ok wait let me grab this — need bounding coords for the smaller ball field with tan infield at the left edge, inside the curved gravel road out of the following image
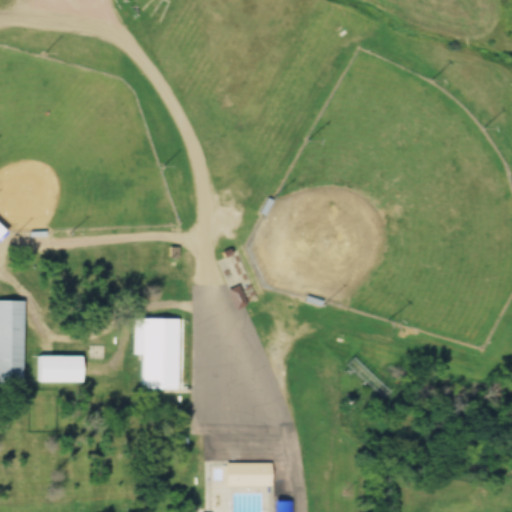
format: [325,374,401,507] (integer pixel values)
[0,44,181,231]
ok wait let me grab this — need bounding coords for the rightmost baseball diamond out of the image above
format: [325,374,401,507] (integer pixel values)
[246,48,512,349]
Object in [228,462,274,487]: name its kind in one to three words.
building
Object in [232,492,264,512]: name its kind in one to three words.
swimming pool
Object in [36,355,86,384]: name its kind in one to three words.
shed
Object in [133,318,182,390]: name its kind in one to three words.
building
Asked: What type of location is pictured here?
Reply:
sports ground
